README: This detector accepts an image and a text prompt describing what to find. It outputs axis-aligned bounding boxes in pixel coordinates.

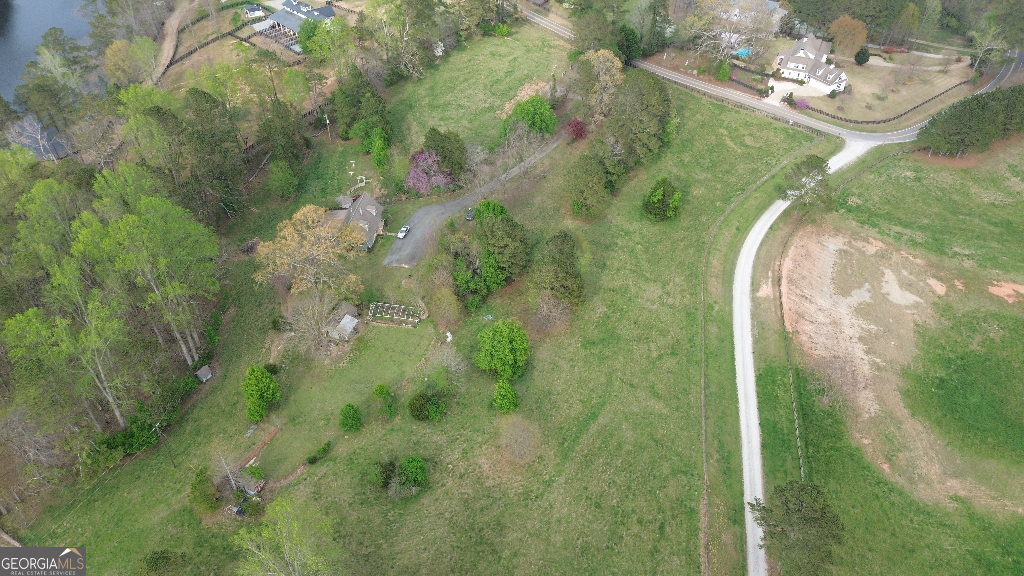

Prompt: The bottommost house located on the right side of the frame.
[767,32,853,94]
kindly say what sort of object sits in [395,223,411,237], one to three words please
car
